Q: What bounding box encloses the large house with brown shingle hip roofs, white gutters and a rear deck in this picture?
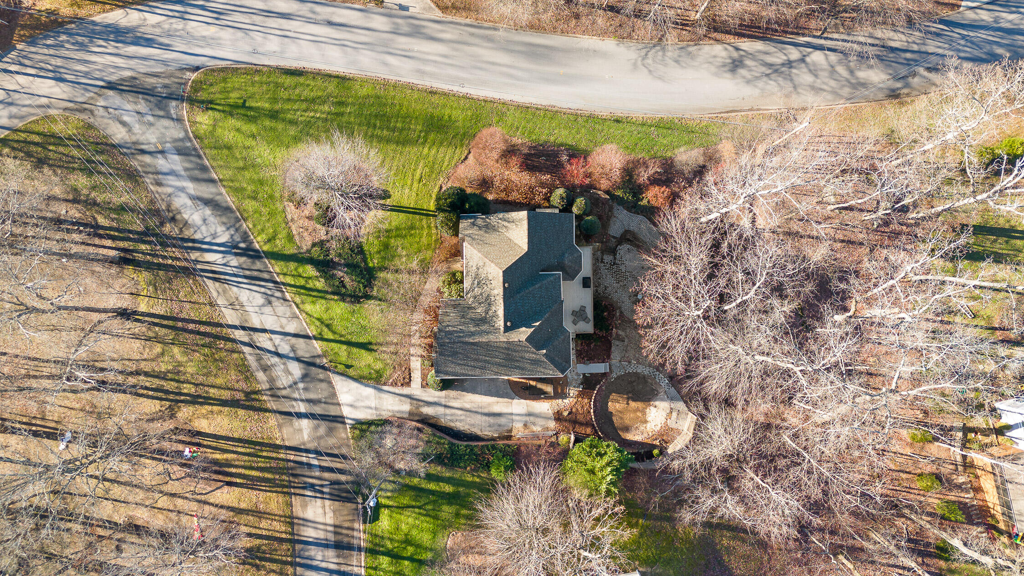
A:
[435,210,595,379]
